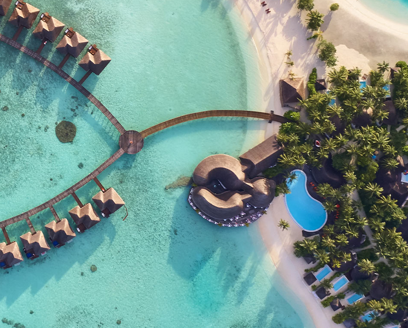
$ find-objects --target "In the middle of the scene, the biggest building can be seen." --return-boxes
[187,154,275,227]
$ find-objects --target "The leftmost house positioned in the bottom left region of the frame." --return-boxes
[0,227,23,269]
